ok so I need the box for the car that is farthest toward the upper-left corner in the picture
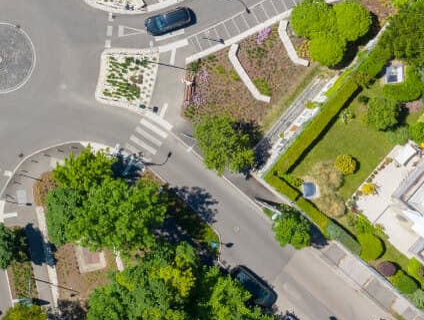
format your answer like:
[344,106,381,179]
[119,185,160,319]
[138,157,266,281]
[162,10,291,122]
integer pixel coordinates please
[143,6,194,36]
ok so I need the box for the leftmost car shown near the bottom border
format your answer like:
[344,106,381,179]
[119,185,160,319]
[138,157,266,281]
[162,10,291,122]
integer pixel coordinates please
[231,261,276,309]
